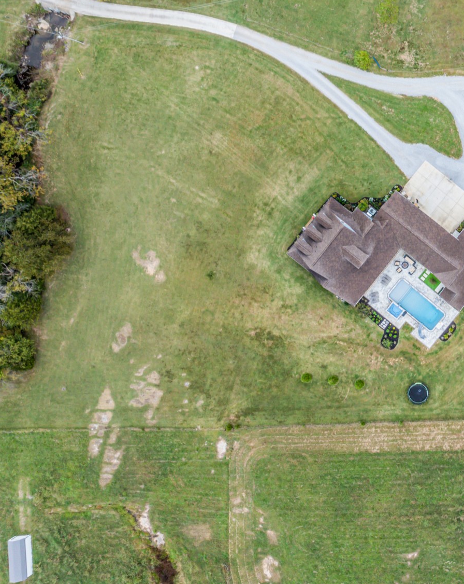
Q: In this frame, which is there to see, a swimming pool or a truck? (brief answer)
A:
swimming pool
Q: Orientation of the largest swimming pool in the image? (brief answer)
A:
on a diagonal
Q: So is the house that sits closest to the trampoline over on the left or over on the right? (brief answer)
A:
right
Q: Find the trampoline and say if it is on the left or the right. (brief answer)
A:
right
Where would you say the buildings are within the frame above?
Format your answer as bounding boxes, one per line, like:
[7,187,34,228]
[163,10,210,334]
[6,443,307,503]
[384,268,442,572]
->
[8,535,33,583]
[287,191,464,311]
